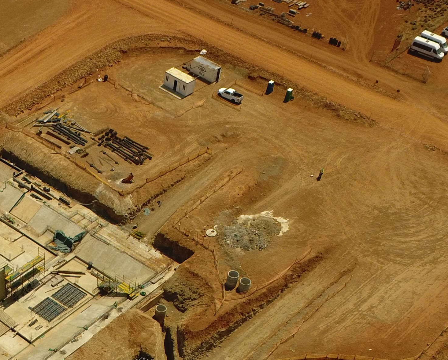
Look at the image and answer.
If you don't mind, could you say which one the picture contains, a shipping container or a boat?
shipping container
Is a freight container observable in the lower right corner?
No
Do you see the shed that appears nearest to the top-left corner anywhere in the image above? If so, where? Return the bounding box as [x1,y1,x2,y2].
[157,68,196,100]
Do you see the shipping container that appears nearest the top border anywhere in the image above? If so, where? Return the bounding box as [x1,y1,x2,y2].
[189,55,227,83]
